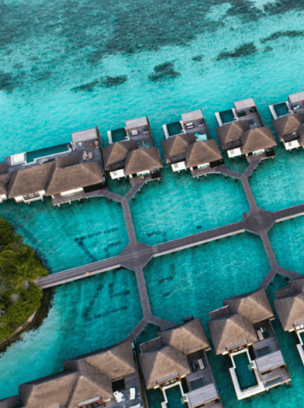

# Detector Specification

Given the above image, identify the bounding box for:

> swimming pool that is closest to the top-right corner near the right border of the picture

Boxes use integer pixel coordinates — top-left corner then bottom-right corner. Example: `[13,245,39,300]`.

[270,103,293,120]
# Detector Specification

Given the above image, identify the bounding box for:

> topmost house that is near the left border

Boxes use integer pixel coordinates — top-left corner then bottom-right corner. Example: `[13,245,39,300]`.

[0,125,111,214]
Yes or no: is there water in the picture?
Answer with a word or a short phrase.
Yes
